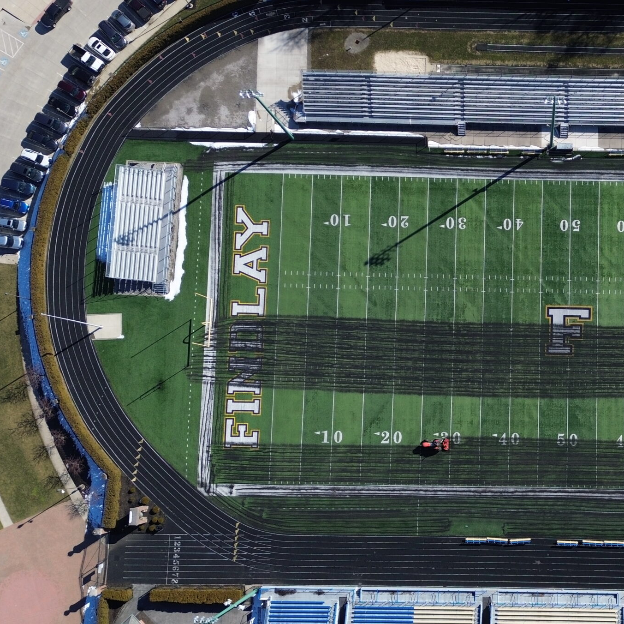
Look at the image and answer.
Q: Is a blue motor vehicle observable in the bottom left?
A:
No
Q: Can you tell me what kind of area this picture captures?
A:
sports ground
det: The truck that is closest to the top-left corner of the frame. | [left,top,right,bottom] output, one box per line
[38,0,74,30]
